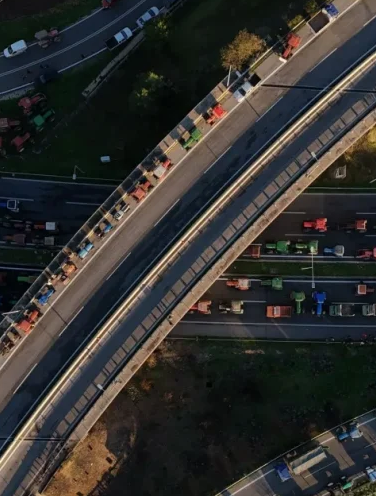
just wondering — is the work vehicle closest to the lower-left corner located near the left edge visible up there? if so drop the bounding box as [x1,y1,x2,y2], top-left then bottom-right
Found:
[1,329,22,350]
